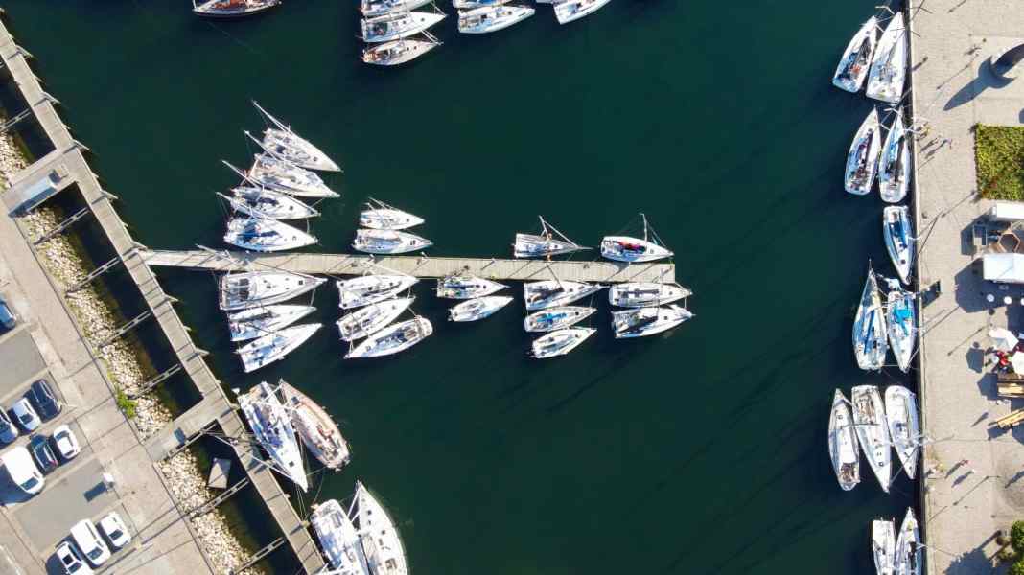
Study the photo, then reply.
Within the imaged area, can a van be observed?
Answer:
Yes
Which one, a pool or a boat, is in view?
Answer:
boat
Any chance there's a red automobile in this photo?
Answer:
No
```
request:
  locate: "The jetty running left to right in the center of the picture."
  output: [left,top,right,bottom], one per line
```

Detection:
[142,251,675,283]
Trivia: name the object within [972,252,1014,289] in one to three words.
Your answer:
gazebo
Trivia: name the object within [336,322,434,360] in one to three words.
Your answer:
boat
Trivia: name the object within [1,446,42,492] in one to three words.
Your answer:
van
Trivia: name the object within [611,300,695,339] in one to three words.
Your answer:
boat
